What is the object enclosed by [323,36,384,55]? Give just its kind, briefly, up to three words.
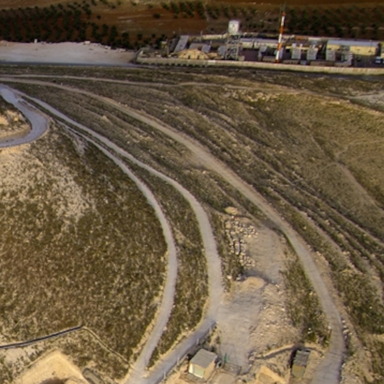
building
